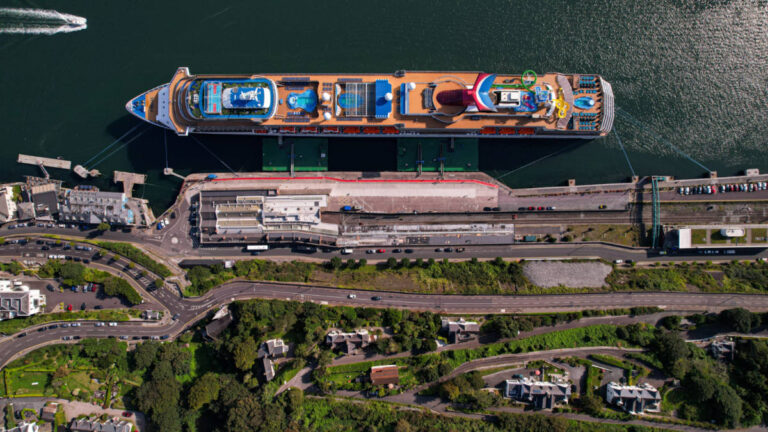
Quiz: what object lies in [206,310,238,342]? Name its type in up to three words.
house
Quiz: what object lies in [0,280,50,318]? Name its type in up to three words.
house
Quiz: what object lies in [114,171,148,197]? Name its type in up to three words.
pier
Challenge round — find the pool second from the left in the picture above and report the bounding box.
[339,92,368,109]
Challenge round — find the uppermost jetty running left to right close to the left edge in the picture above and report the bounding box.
[17,154,72,170]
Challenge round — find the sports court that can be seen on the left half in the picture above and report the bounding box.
[204,81,224,115]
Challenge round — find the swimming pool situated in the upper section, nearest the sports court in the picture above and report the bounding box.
[288,90,317,112]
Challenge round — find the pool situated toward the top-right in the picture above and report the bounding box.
[574,97,594,109]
